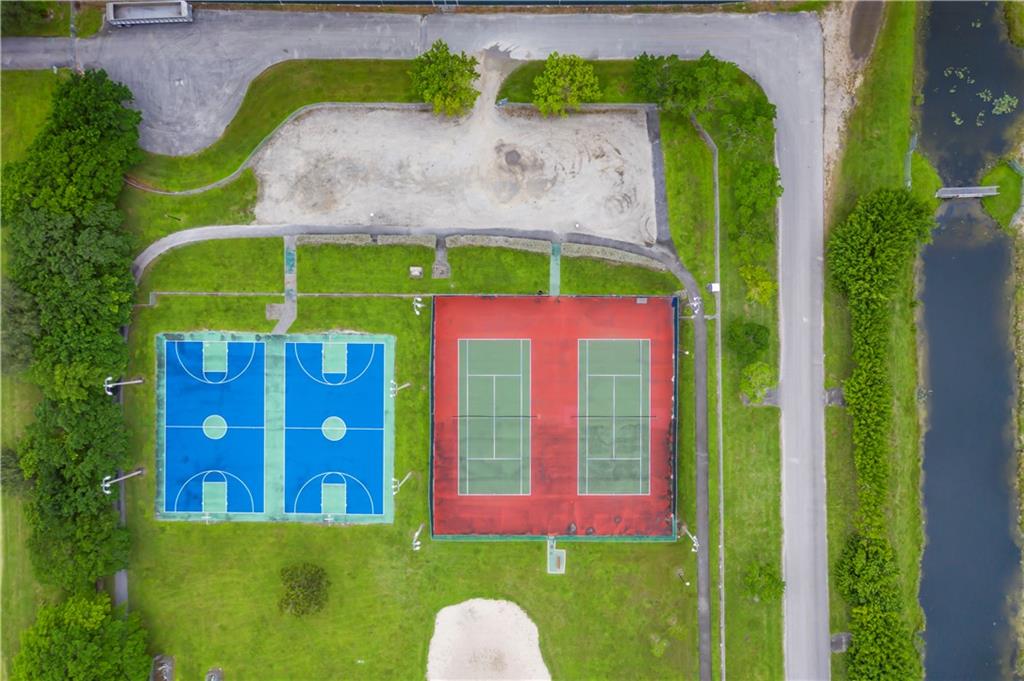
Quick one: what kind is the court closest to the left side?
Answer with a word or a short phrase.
basketball court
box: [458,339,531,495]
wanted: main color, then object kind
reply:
green tennis court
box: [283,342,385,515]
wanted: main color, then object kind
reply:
blue basketball court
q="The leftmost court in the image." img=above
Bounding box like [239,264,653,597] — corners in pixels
[164,341,266,513]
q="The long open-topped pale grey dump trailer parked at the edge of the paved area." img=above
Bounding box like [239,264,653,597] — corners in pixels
[105,0,197,29]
